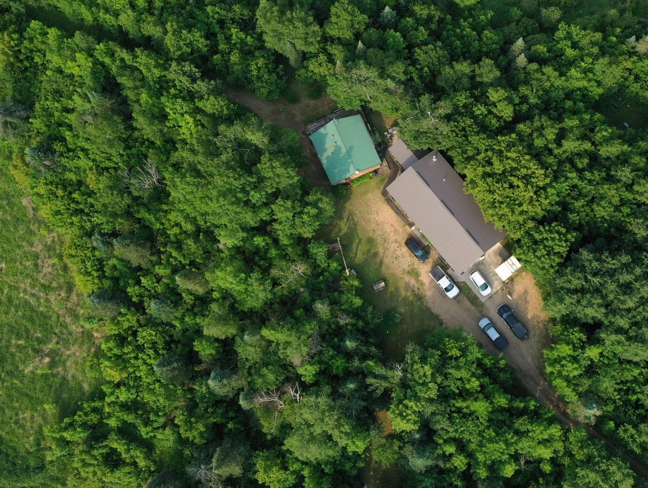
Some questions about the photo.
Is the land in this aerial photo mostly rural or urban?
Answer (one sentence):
The area shown here is rural.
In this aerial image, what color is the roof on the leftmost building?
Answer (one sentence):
The roof over the leftmost building appears green.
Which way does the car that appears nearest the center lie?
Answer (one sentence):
From this overhead view, the car that appears nearest the center appears to run on a diagonal.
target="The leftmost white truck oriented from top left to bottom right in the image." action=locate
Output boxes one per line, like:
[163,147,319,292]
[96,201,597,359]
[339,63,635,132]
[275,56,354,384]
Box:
[427,263,460,299]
